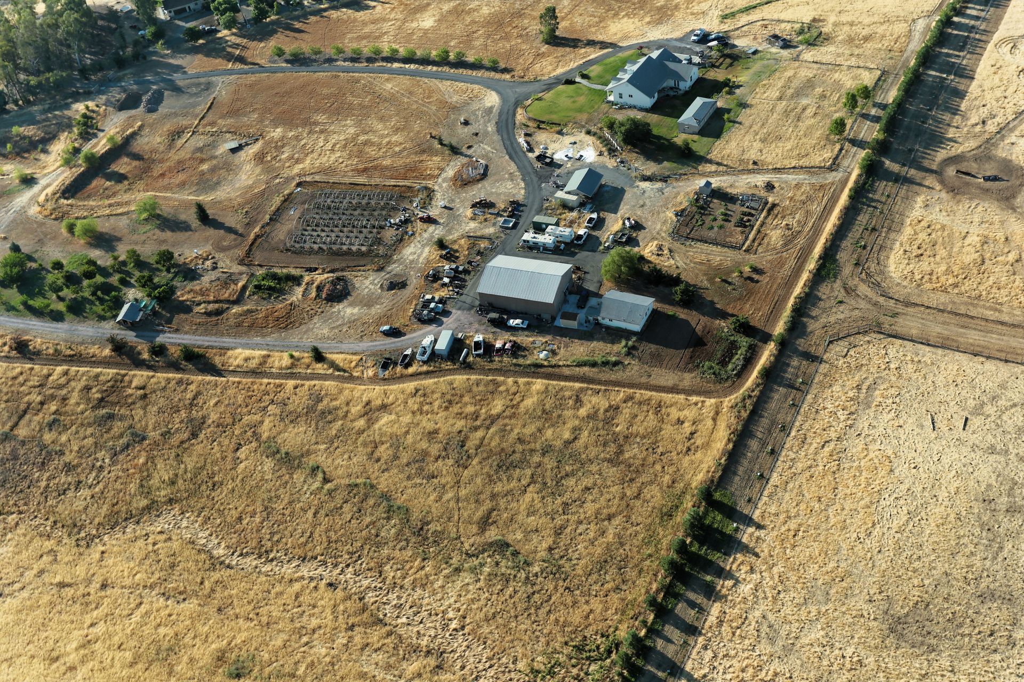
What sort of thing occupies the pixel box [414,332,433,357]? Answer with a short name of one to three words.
boat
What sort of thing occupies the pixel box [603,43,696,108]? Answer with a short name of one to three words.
house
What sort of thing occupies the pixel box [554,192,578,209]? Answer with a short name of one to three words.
shed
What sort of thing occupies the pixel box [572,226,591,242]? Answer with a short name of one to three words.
vehicle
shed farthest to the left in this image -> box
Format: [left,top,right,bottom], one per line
[115,301,146,332]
